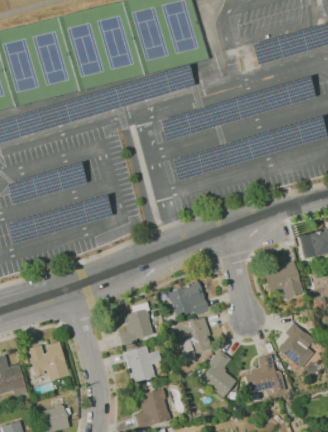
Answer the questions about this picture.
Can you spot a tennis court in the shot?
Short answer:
Yes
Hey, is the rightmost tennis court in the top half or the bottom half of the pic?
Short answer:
top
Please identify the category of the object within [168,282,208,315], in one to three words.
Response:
house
